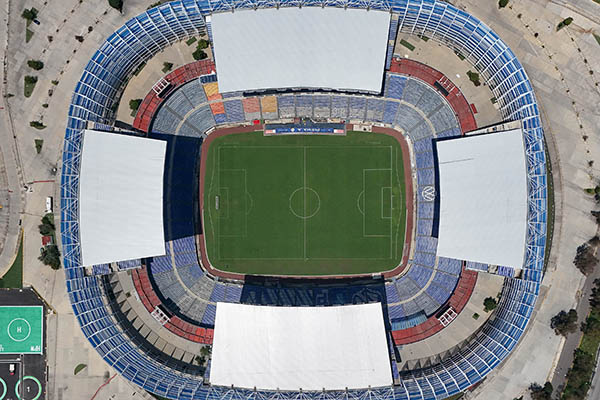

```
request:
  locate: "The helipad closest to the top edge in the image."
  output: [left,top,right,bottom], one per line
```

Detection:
[0,306,43,354]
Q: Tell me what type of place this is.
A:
sports ground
